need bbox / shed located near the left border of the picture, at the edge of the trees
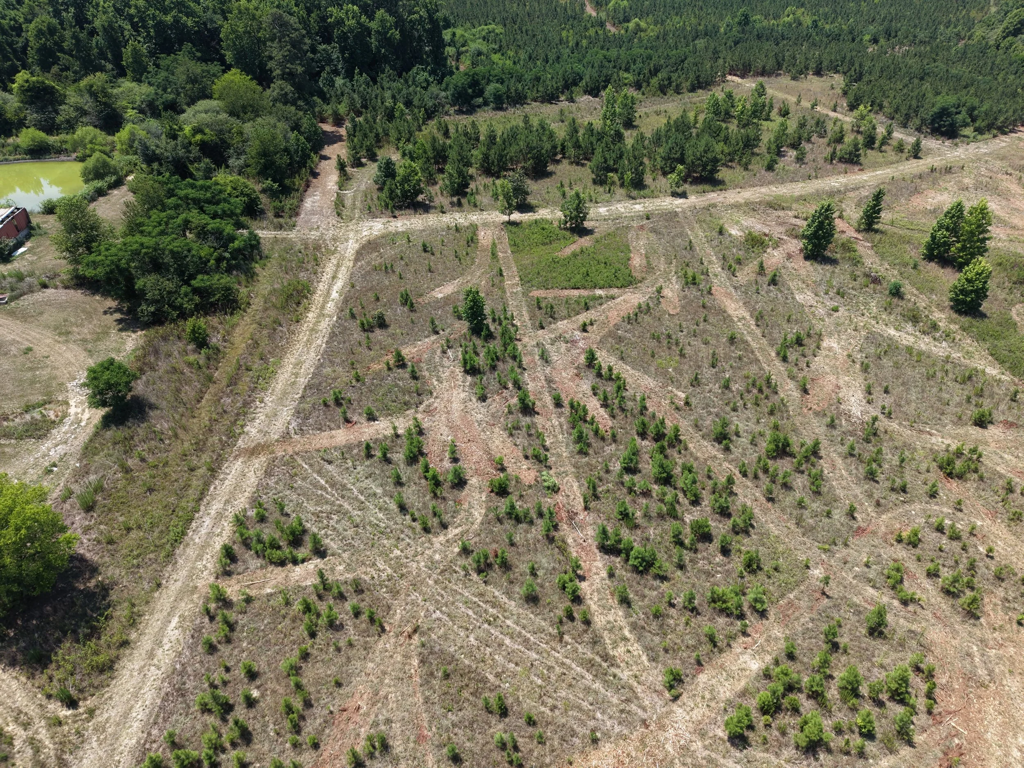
[0,205,31,248]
